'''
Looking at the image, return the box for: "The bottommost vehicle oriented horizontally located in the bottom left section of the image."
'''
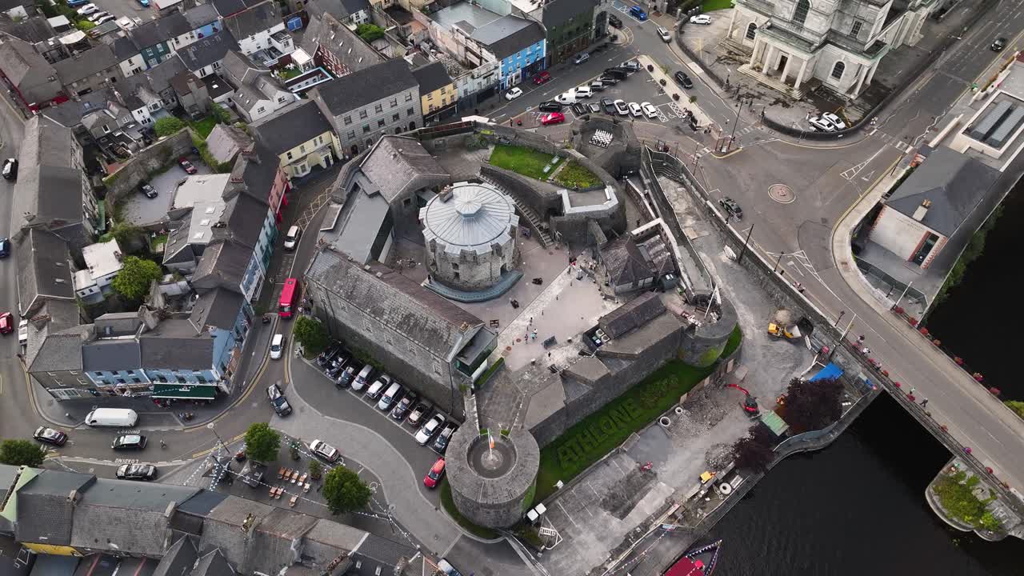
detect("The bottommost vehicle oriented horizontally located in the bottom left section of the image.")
[115,461,159,481]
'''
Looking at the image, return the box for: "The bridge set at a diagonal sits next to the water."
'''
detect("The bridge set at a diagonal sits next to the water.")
[869,311,1024,556]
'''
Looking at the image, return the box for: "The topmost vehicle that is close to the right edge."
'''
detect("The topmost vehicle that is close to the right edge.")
[990,37,1009,53]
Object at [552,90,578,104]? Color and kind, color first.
white vehicle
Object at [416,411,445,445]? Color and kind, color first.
white car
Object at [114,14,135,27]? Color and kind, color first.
white vehicle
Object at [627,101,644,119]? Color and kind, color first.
white car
